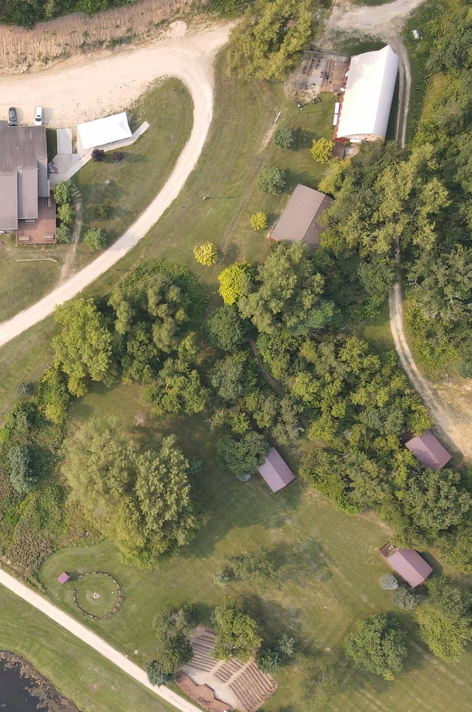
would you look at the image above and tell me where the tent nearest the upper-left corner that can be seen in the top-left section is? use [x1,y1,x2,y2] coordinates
[77,112,133,149]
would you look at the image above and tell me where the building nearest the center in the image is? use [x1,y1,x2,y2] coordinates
[259,448,298,493]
